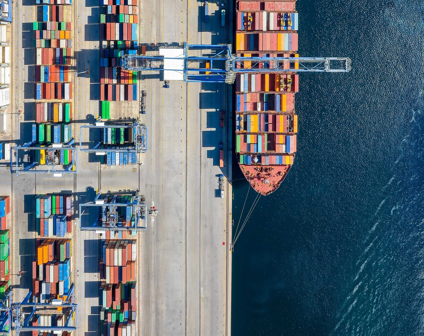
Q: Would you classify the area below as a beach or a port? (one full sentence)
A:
This looks like a port.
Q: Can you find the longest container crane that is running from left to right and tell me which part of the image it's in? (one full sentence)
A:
The longest container crane that is running from left to right appears toward the top of the photo.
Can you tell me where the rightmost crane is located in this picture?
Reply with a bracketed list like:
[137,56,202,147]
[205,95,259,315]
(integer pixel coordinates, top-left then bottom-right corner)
[122,39,355,89]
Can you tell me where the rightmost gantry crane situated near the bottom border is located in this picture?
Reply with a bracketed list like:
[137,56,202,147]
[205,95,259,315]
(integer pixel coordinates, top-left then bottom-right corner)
[9,299,77,335]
